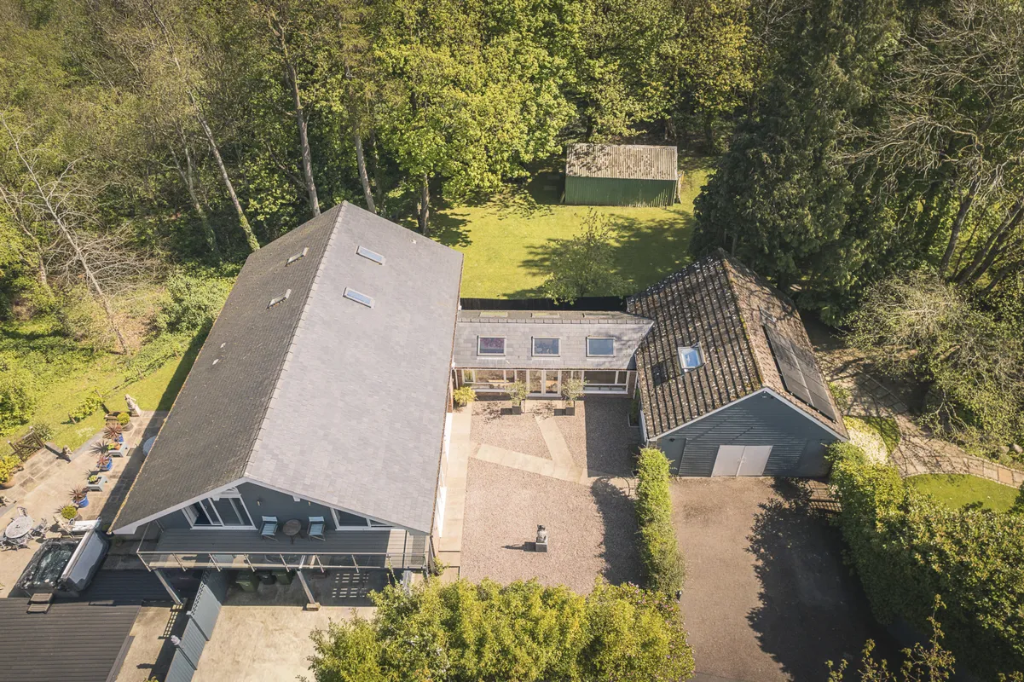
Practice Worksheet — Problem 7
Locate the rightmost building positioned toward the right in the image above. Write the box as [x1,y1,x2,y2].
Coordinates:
[624,243,852,478]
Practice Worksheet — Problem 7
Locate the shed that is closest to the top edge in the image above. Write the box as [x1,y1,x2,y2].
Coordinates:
[564,142,682,207]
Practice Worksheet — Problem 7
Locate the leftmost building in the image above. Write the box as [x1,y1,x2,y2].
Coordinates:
[106,198,464,611]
